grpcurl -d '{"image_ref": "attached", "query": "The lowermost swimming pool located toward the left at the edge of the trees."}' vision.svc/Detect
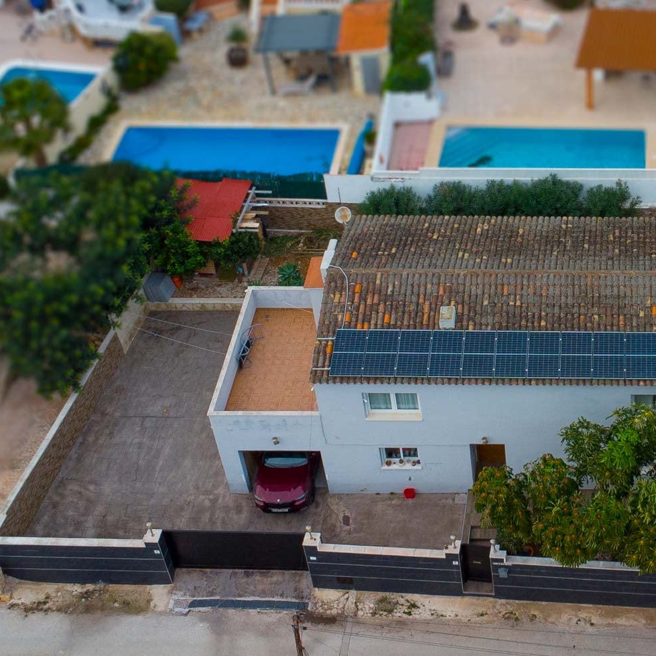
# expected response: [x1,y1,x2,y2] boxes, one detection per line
[100,121,348,175]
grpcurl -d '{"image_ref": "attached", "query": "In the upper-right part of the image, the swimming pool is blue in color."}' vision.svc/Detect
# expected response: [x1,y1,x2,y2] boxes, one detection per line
[427,120,656,167]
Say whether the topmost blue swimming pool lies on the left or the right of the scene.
left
